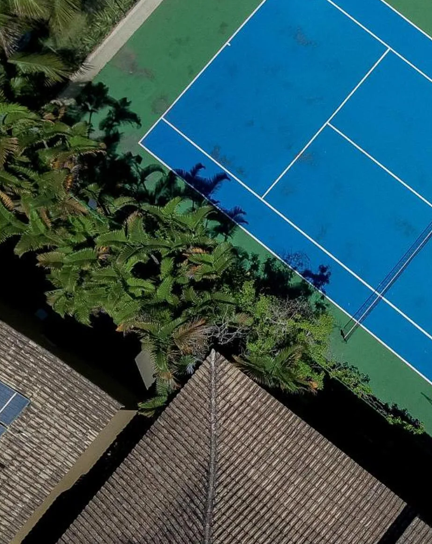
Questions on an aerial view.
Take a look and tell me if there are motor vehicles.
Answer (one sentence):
No, no motor vehicle can be seen from above.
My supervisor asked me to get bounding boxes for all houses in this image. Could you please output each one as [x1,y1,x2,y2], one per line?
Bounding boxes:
[49,347,430,544]
[0,261,163,544]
